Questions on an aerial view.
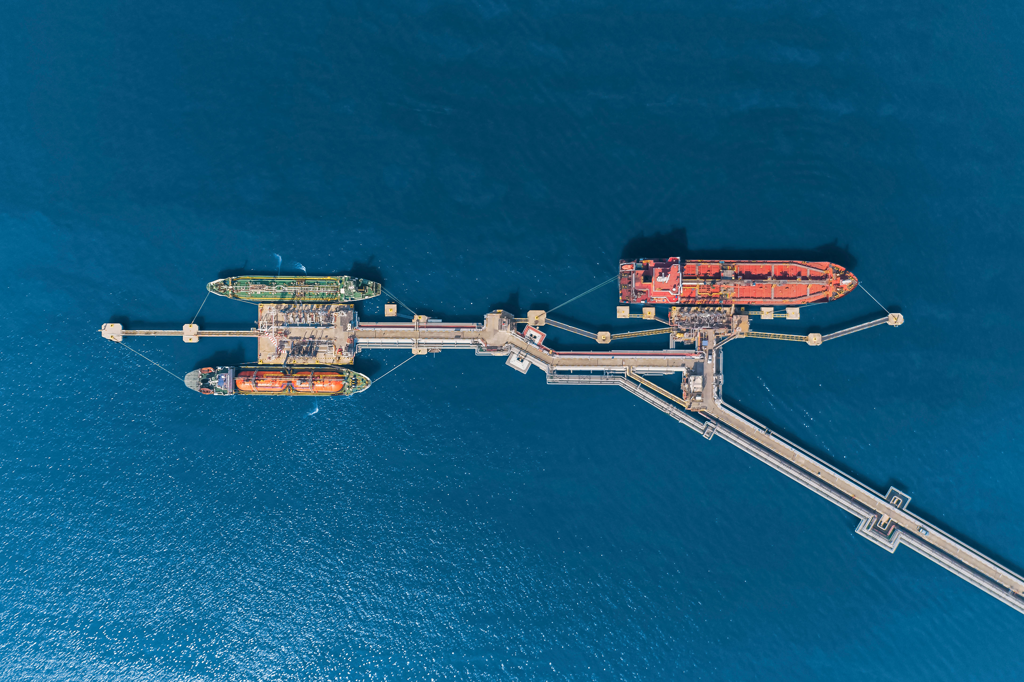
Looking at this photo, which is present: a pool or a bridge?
bridge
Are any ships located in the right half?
Yes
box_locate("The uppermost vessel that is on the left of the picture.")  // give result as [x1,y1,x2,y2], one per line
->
[207,276,381,302]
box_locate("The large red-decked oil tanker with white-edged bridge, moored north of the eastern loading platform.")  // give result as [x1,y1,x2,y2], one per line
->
[619,257,860,305]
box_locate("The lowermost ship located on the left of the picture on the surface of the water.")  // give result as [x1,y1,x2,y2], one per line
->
[184,366,371,396]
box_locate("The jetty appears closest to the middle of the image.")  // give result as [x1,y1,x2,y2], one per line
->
[481,310,512,346]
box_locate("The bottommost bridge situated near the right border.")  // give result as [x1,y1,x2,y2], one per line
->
[708,407,1024,595]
